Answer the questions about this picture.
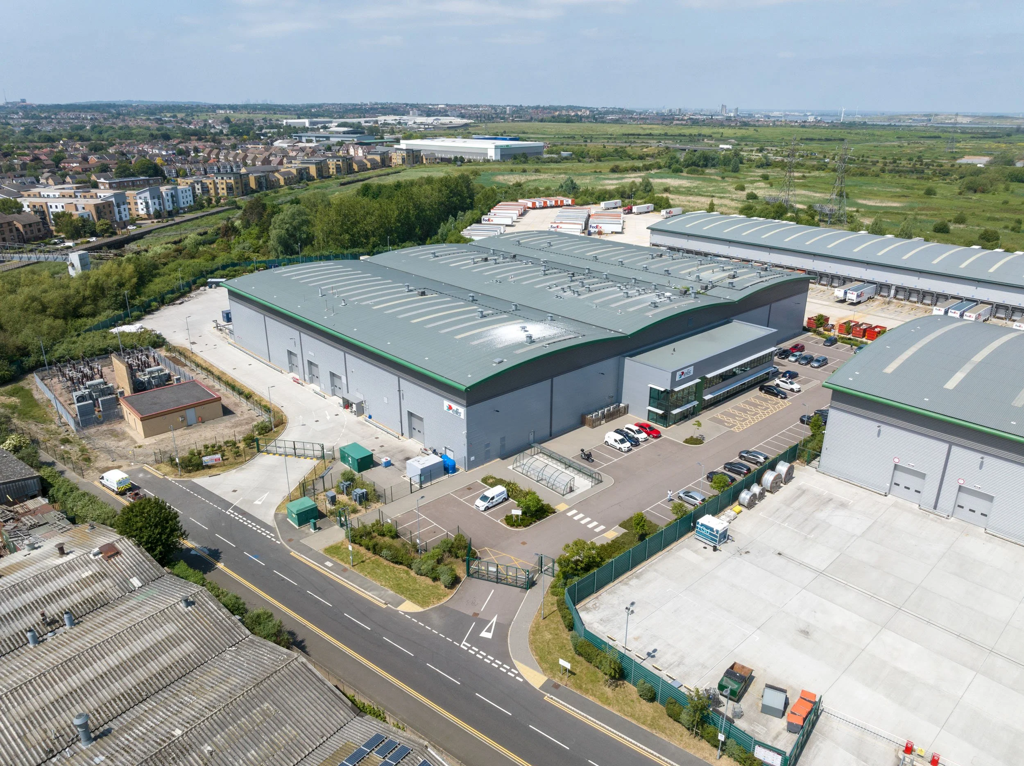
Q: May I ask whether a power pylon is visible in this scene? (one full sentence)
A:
Yes, a power pylon can be made out from above.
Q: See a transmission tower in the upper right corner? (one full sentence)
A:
Yes, I can see a transmission tower in the upper right corner.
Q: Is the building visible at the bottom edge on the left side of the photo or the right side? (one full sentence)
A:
The building visible at the bottom edge appears in the left half of the scene.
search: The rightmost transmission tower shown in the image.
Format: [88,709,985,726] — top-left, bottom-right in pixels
[944,112,963,152]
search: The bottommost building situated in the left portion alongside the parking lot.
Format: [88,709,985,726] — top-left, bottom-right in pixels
[0,521,469,766]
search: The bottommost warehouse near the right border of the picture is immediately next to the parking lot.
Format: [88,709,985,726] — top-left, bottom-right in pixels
[815,315,1024,542]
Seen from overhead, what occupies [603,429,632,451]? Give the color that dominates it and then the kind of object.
white vehicle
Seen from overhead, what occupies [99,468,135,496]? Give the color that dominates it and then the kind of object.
white van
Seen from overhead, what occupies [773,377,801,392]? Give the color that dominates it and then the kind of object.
white car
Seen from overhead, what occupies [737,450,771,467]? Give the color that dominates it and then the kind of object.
gray car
